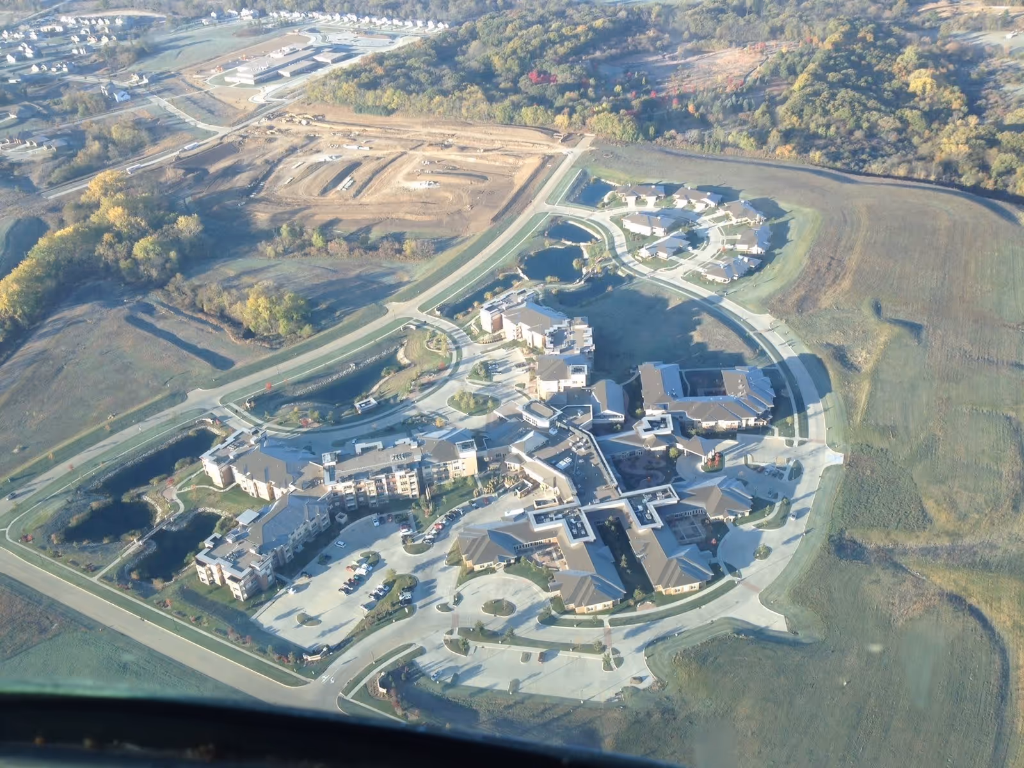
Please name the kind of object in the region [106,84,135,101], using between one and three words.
barn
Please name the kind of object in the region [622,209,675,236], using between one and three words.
house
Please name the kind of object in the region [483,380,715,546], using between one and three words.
building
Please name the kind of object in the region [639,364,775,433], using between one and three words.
building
